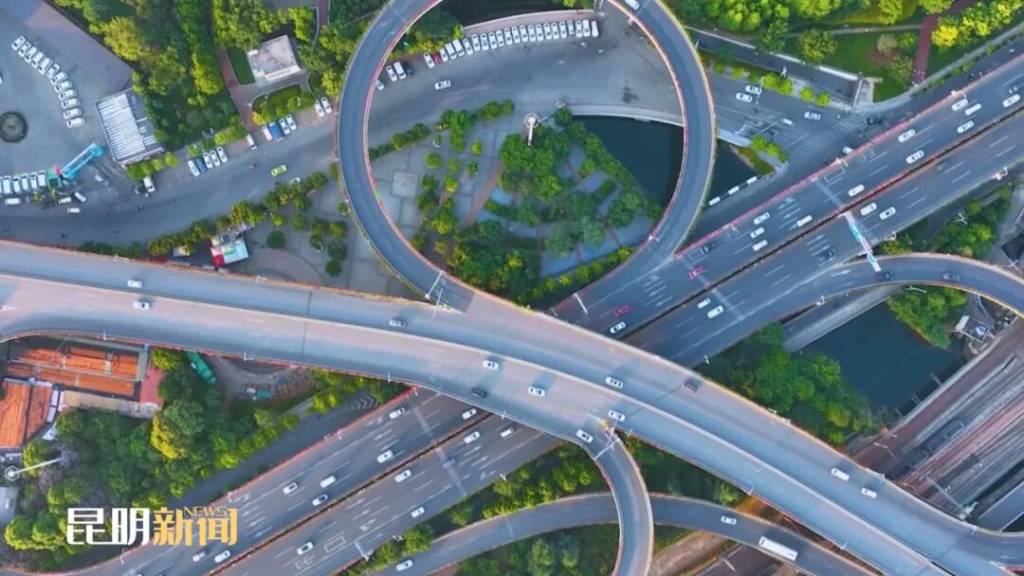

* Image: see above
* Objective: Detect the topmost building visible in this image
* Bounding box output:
[247,34,304,87]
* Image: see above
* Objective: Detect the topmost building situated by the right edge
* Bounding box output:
[993,226,1024,275]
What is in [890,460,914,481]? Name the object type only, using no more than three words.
rail car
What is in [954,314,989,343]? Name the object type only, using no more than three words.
shed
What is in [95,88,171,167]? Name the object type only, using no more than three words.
building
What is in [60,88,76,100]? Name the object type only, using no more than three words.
vehicle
